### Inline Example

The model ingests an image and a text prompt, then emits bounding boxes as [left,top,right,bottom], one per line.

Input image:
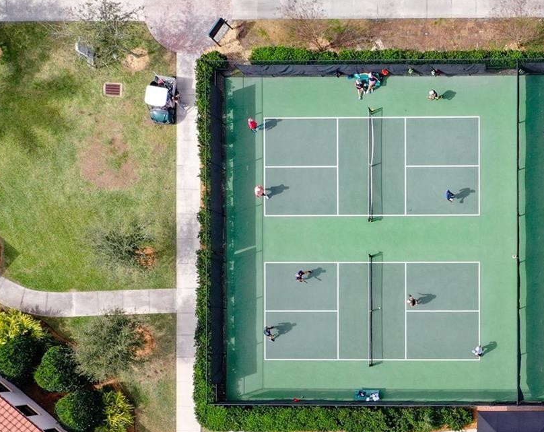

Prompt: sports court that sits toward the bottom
[264,262,481,361]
